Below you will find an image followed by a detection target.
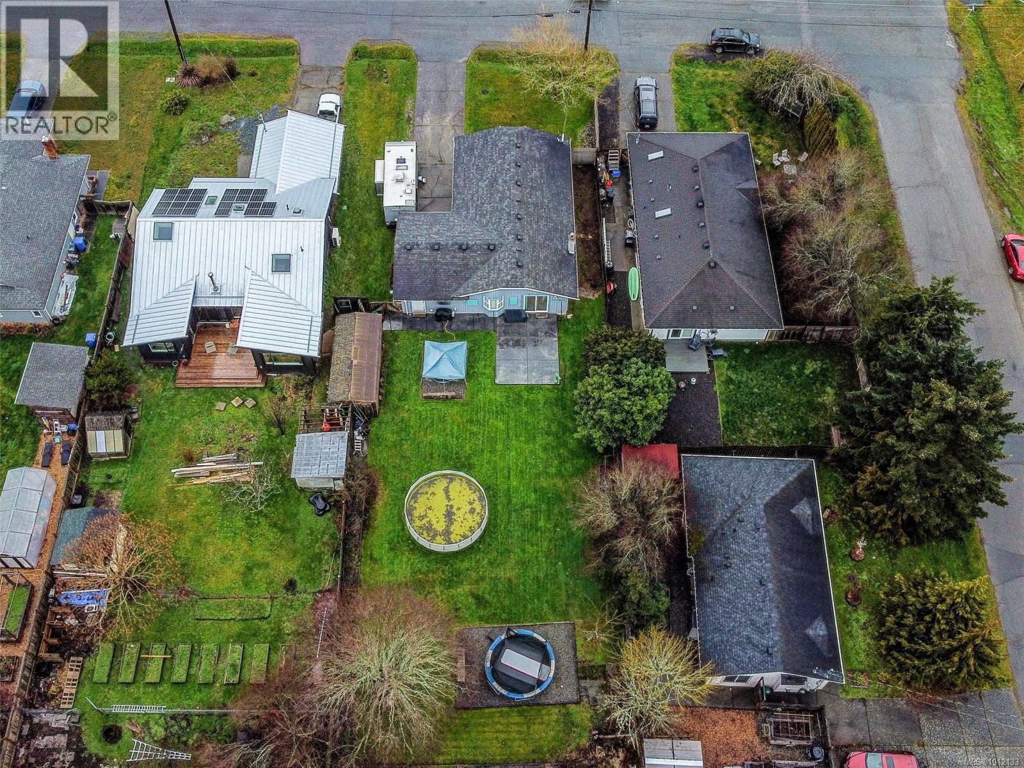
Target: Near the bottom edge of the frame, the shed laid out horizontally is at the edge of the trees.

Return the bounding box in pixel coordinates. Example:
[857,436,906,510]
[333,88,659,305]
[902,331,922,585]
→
[643,739,703,768]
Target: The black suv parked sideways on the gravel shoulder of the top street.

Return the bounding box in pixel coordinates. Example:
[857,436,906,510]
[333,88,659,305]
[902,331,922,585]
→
[709,25,764,55]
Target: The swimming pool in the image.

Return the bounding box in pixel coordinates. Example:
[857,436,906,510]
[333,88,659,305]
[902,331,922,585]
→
[405,470,489,554]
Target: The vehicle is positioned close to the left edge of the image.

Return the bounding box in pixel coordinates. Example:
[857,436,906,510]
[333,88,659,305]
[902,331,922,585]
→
[0,80,40,123]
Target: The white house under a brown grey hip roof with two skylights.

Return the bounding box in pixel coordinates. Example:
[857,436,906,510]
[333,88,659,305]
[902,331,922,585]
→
[627,130,784,345]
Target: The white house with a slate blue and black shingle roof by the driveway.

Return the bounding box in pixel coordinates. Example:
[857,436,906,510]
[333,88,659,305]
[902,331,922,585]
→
[680,455,852,694]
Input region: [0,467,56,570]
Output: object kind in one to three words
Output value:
greenhouse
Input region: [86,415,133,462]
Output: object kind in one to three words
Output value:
shed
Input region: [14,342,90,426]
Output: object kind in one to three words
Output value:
shed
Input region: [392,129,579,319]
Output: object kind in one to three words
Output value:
house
